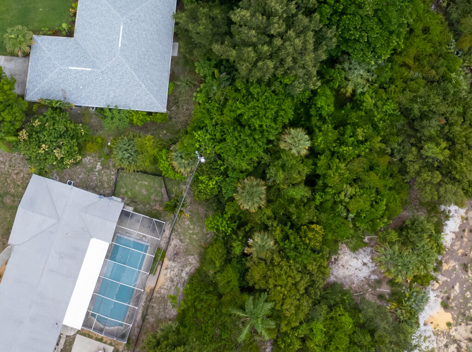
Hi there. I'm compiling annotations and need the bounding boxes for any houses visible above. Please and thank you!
[0,175,125,352]
[25,0,176,113]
